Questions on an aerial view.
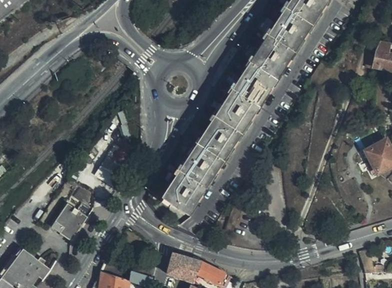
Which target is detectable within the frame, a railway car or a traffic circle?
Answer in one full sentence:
Visible in the photo is a traffic circle.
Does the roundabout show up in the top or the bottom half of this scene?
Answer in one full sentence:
It is in the top half that the roundabout appears.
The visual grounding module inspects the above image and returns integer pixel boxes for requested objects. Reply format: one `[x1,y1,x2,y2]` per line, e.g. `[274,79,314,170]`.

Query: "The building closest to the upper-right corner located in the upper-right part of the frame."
[370,40,392,74]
